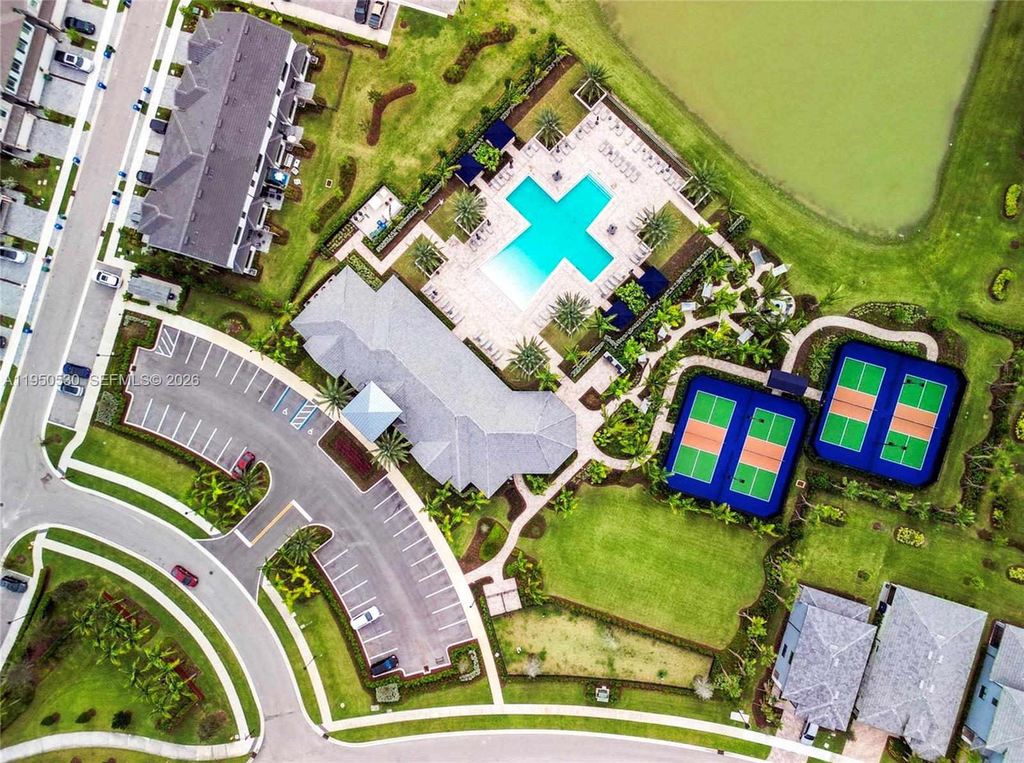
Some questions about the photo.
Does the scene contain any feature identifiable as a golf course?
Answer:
No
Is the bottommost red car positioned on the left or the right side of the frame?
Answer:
left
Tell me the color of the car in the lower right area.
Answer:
white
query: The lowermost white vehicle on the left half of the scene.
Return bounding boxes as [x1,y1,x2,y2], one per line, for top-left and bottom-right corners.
[350,605,382,629]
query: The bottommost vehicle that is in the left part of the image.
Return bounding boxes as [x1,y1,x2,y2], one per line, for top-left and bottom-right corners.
[368,654,401,677]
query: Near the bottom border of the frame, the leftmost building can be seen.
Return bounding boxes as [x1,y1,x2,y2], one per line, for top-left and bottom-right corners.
[768,584,877,732]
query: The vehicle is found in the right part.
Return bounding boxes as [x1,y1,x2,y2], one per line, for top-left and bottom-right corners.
[798,718,819,748]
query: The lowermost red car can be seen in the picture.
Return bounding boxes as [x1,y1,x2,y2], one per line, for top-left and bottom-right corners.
[170,564,200,589]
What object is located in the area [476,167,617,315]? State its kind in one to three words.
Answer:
swimming pool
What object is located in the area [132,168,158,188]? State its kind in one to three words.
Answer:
car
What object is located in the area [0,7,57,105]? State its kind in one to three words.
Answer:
house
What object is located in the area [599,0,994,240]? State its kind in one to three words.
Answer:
pond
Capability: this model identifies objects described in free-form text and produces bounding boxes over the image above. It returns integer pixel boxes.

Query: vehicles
[132,168,158,188]
[370,0,389,29]
[124,209,141,224]
[368,654,401,677]
[0,574,29,592]
[232,450,257,479]
[90,269,125,288]
[53,49,95,73]
[353,0,370,26]
[144,116,169,134]
[62,362,93,379]
[0,248,28,266]
[350,605,382,629]
[798,718,819,748]
[63,15,97,35]
[170,564,200,589]
[121,0,139,17]
[56,380,87,397]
